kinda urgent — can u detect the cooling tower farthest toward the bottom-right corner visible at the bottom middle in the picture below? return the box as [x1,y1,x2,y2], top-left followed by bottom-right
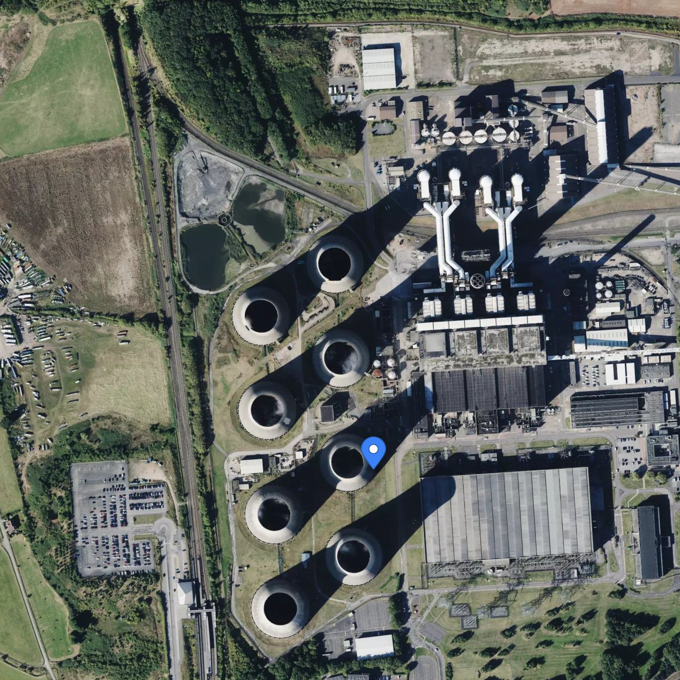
[324,526,384,588]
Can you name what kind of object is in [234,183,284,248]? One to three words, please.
pond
